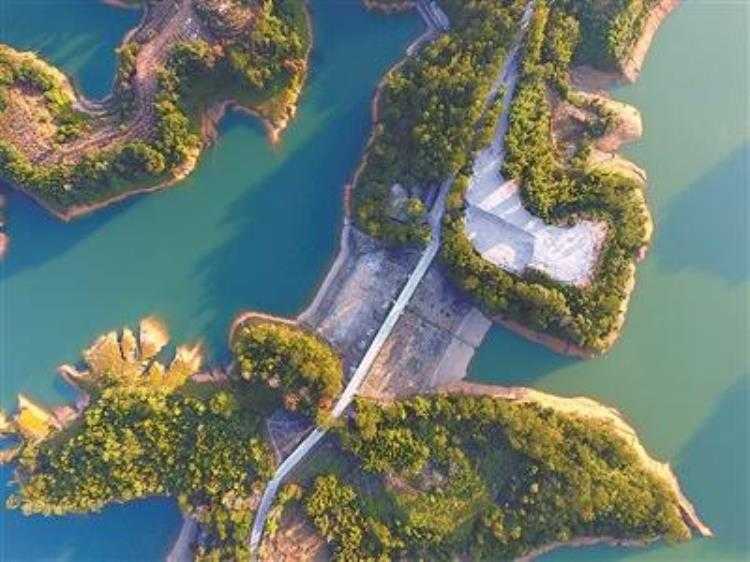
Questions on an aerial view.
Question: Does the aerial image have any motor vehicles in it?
No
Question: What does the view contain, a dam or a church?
dam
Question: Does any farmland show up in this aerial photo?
No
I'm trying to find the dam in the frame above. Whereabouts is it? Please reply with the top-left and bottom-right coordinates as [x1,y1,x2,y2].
[294,212,492,418]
